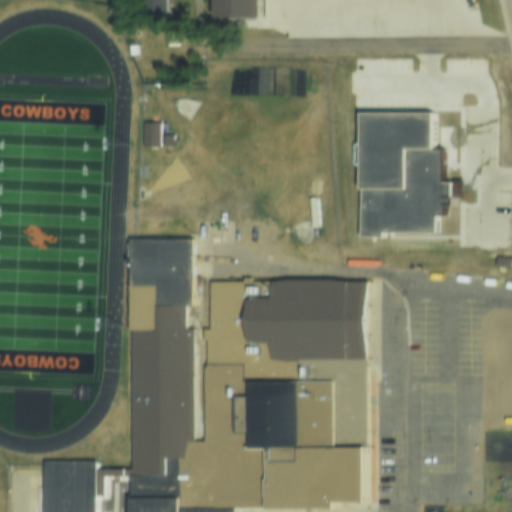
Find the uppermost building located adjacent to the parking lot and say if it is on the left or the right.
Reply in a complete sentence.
The uppermost building located adjacent to the parking lot appears in the right half of the scene.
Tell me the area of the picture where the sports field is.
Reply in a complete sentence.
The sports field sits in the left section of the image.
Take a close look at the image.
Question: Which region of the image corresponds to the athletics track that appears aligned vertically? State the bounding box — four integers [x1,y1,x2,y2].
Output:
[0,9,132,453]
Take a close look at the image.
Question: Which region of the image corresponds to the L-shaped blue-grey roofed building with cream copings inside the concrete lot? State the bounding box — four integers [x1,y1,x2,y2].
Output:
[354,112,462,236]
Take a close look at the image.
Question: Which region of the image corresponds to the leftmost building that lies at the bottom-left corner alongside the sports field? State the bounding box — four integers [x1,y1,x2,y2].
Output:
[40,460,102,512]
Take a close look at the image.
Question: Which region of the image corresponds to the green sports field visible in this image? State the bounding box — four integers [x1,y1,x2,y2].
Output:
[0,25,116,436]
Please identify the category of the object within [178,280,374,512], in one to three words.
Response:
building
